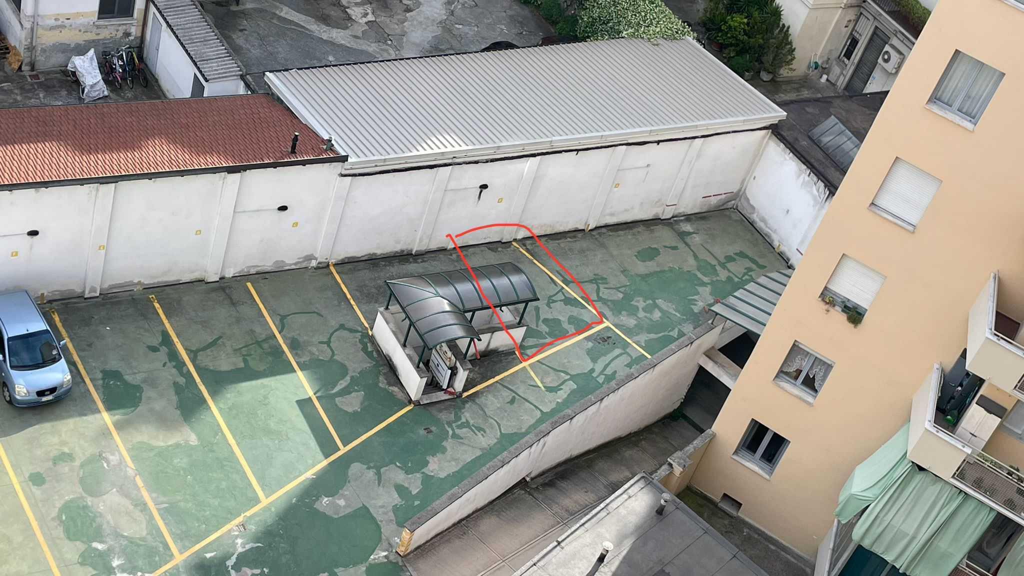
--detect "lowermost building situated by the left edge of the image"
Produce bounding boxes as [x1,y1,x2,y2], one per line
[0,91,349,196]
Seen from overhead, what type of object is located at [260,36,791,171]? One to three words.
shed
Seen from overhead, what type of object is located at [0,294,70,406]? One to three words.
car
